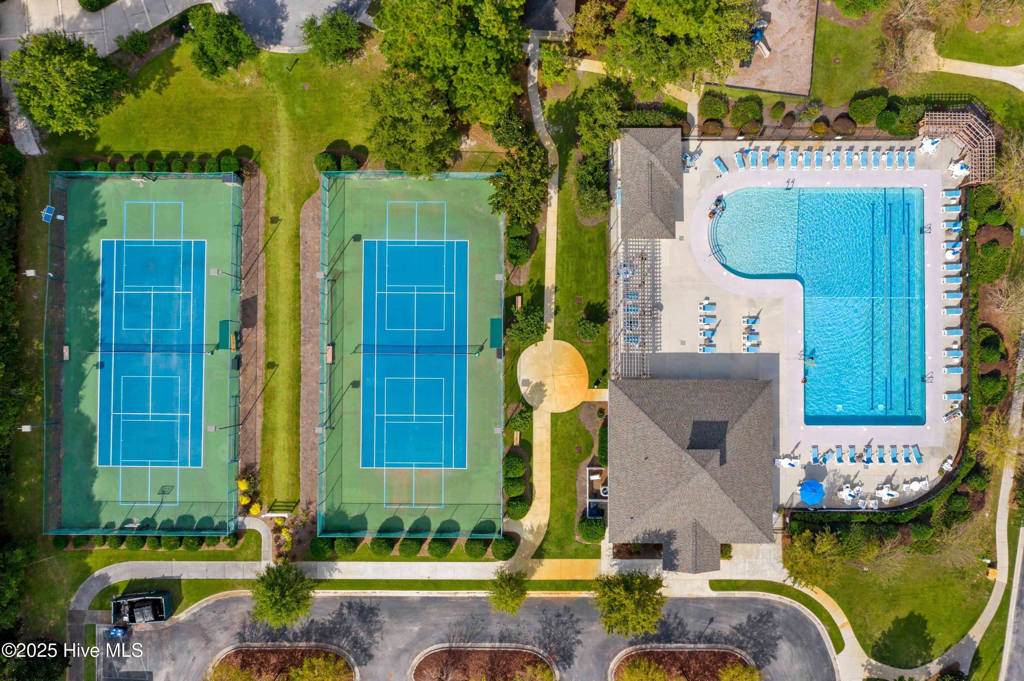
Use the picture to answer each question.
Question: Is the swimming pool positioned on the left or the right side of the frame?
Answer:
right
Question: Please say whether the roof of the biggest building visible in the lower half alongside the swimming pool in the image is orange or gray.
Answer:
gray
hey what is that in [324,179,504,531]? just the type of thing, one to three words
sports court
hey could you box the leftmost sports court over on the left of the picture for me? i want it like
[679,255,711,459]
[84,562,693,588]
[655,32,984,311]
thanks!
[61,178,242,529]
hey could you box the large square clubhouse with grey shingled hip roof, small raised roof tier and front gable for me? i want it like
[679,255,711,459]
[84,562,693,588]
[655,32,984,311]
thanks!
[607,379,774,576]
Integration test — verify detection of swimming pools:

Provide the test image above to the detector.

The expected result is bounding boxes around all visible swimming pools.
[708,181,932,431]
